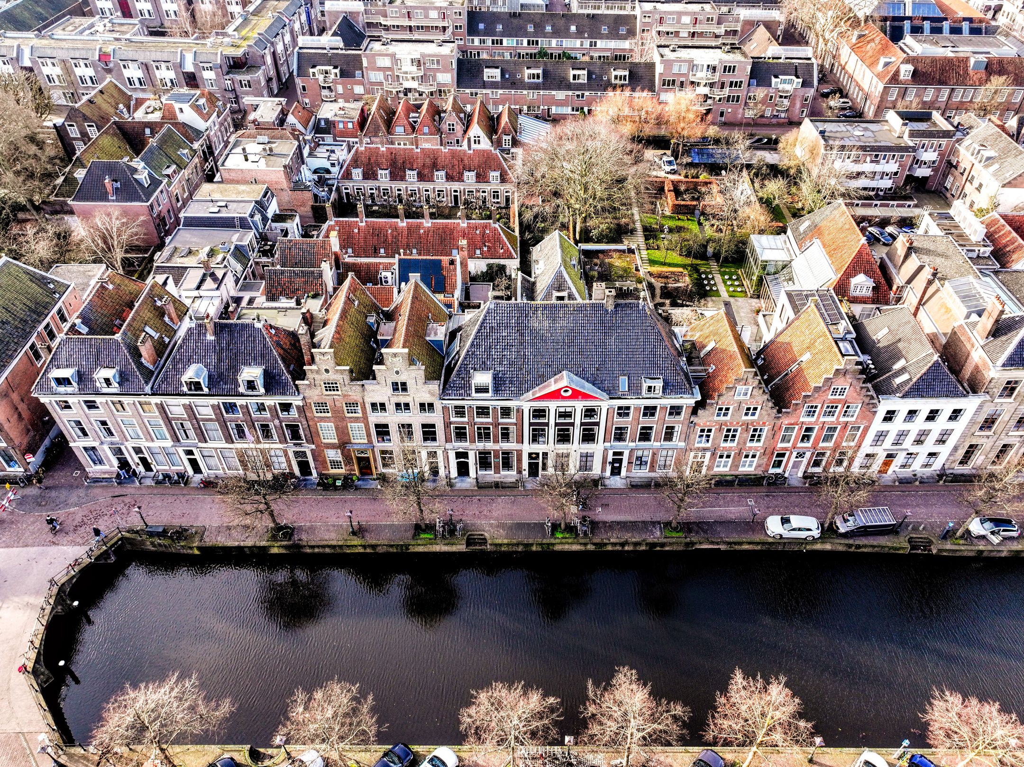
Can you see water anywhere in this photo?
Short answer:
Yes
